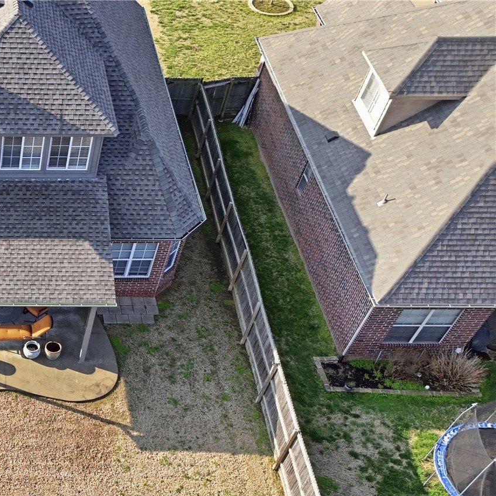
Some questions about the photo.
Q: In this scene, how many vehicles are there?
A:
0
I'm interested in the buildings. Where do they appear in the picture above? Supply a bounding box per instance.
[0,0,211,361]
[241,0,496,364]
